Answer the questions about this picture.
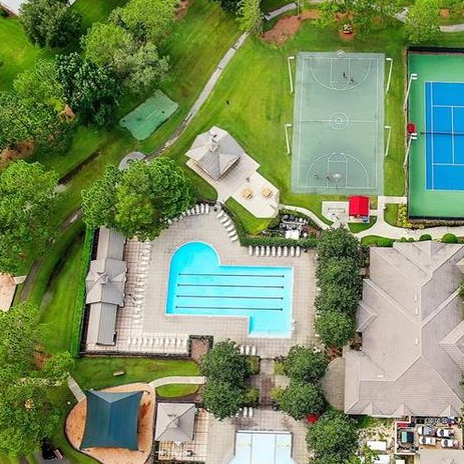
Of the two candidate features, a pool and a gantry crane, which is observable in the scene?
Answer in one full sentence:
There is a pool in the scene.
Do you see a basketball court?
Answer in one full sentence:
Yes, the image includes a basketball court.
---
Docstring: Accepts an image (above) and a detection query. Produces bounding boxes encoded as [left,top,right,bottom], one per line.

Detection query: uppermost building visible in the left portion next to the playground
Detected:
[85,226,129,347]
